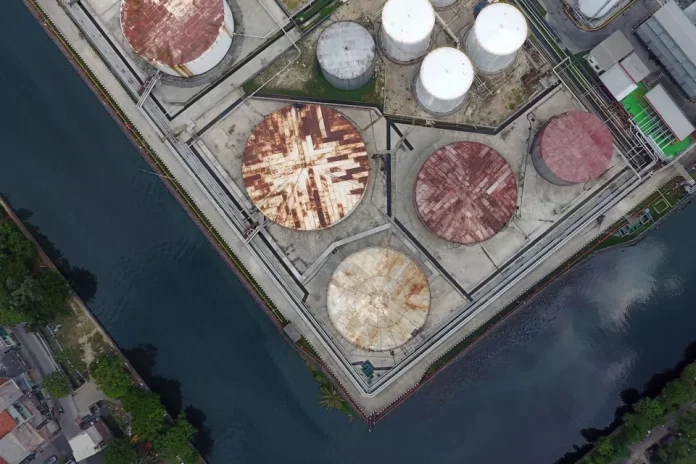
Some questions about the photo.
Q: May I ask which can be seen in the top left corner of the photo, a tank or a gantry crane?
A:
tank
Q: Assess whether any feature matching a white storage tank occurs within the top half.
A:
Yes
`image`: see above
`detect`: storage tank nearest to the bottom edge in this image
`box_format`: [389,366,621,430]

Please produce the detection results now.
[328,245,431,351]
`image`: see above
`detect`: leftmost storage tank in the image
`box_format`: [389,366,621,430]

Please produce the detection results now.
[120,0,243,85]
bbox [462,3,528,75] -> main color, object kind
white storage tank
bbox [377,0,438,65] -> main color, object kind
white storage tank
